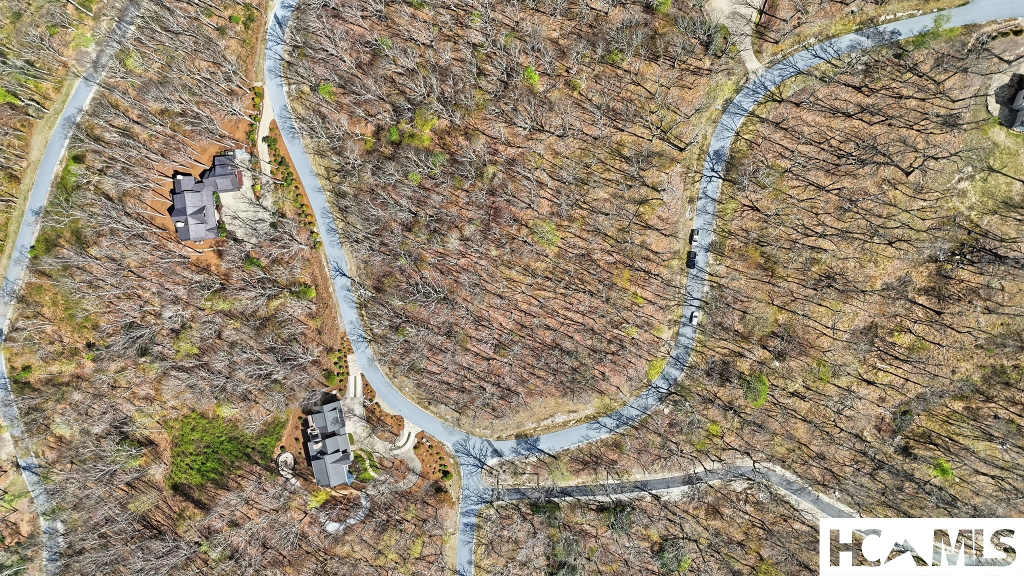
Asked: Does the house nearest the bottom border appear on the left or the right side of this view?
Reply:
left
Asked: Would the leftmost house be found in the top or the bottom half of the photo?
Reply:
top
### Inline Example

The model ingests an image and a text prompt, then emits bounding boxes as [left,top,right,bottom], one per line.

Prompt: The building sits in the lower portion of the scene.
[307,399,356,487]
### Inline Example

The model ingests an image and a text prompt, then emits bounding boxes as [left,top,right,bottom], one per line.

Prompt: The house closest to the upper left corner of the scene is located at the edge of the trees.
[171,156,245,241]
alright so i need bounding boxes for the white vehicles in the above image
[692,229,700,245]
[693,312,700,325]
